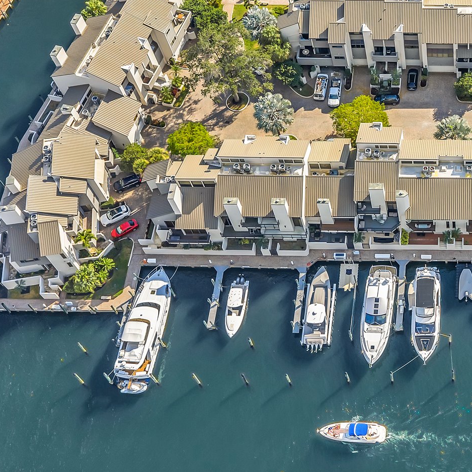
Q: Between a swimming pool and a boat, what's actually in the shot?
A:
boat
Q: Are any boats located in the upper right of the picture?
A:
No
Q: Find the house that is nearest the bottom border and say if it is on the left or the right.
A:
left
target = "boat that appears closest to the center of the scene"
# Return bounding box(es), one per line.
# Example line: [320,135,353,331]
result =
[226,277,250,338]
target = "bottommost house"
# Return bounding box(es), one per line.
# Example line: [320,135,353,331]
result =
[8,214,78,279]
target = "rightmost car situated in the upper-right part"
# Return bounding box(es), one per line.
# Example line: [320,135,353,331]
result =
[407,68,419,91]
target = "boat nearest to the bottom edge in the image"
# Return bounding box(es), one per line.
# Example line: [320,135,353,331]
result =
[318,421,390,447]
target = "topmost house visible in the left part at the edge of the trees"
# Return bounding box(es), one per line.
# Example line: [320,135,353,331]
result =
[50,0,191,105]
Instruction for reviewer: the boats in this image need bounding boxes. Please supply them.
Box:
[306,265,329,351]
[226,277,250,338]
[114,264,166,389]
[362,266,396,367]
[318,421,390,447]
[407,267,442,366]
[118,382,147,395]
[460,268,472,306]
